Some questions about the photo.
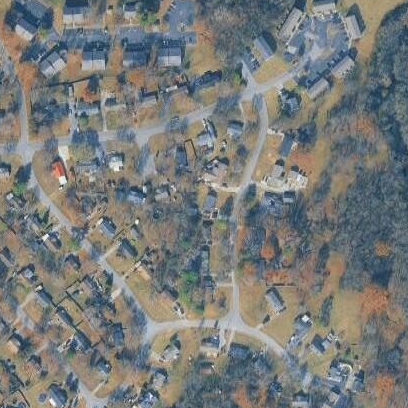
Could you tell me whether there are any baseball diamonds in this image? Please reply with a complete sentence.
No, this view has no baseball diamond in it.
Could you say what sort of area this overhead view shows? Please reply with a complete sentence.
This looks like a residential area.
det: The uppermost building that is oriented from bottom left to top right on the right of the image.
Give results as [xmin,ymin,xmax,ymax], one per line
[276,7,305,38]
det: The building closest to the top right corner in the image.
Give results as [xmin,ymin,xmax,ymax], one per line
[343,13,363,40]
